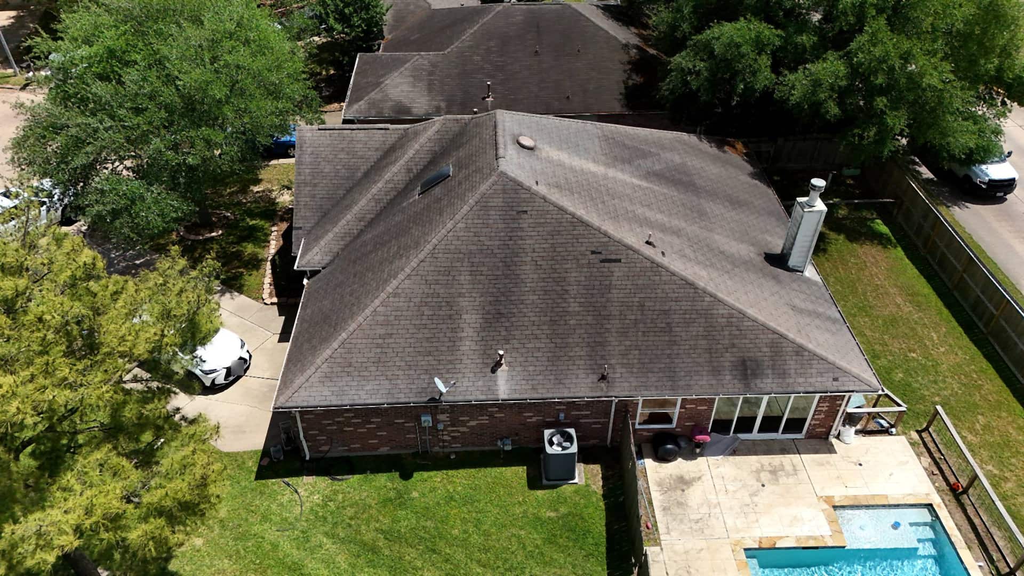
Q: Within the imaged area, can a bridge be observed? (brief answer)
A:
No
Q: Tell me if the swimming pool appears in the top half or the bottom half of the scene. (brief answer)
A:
bottom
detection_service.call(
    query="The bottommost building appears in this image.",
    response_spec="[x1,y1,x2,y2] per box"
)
[269,106,885,464]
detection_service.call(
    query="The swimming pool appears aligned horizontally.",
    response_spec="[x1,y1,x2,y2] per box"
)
[745,503,971,576]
